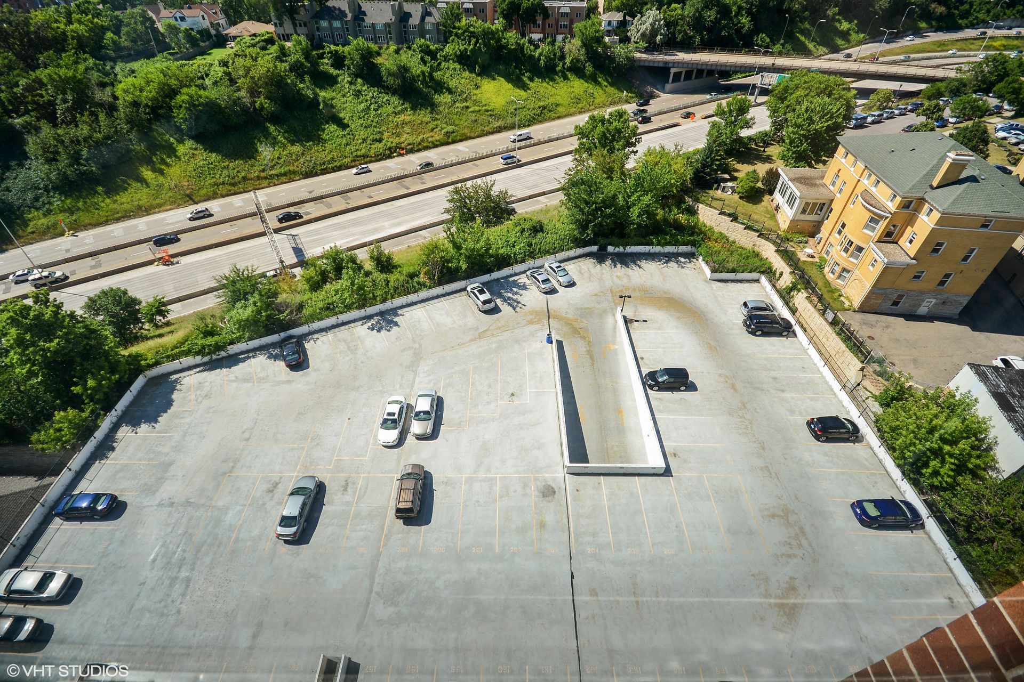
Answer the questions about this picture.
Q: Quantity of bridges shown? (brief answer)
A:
1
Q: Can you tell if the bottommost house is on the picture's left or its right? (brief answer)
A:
left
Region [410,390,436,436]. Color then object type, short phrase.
white car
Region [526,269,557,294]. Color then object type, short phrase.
gray car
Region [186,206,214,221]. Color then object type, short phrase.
gray car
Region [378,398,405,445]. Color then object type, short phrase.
white car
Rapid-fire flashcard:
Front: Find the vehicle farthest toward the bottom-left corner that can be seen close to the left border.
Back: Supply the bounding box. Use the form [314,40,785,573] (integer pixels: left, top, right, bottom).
[0,611,51,648]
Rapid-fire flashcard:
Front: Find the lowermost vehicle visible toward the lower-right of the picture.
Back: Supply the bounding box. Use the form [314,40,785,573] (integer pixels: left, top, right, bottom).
[846,496,931,532]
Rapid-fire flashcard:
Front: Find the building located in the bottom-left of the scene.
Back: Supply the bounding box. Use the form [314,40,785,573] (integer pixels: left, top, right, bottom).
[0,477,58,552]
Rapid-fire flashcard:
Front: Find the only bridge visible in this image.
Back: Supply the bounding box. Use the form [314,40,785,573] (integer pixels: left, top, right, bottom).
[627,37,964,87]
